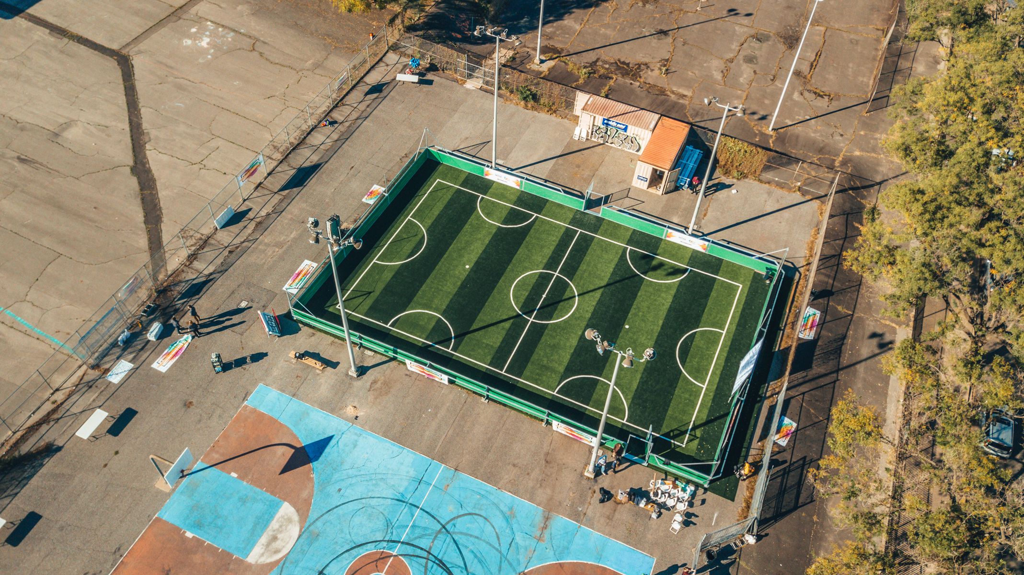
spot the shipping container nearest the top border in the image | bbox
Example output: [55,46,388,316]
[574,92,660,154]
